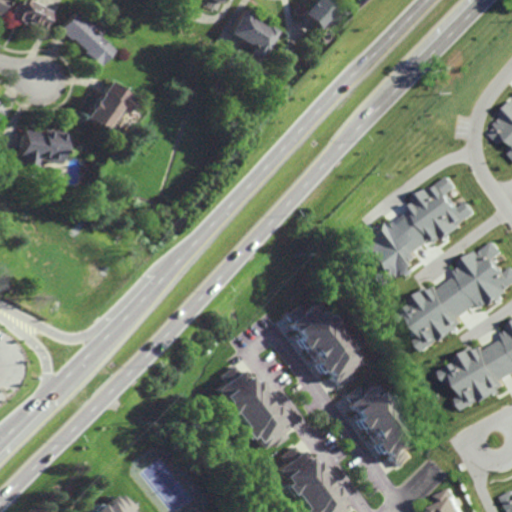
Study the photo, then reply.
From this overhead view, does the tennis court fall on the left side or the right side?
left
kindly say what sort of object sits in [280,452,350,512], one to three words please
building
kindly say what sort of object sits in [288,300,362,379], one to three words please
building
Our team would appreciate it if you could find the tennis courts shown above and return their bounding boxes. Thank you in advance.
[134,442,200,512]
